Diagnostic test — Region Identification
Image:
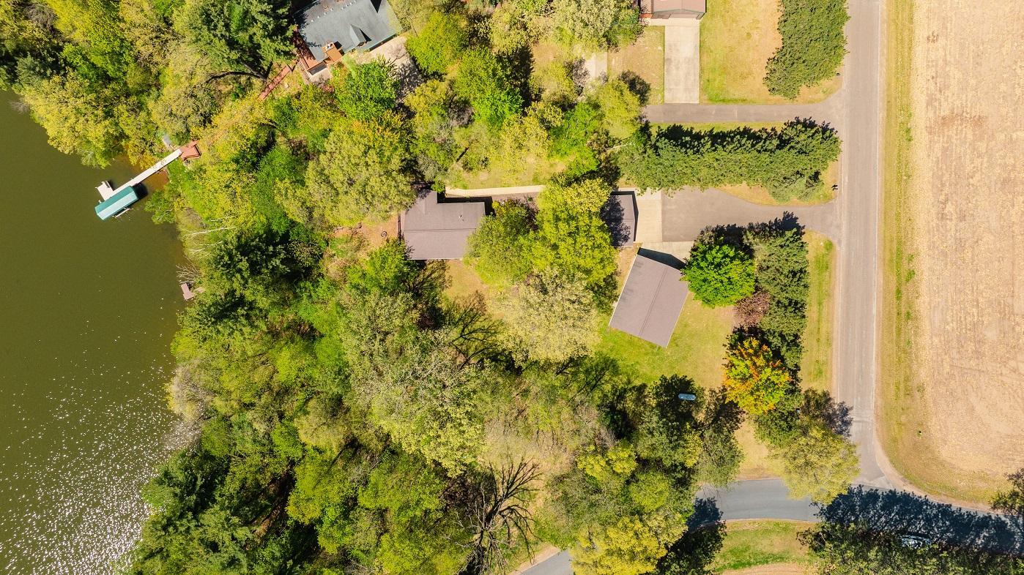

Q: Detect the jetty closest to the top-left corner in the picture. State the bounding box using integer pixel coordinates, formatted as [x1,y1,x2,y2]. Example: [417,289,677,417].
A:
[94,148,182,201]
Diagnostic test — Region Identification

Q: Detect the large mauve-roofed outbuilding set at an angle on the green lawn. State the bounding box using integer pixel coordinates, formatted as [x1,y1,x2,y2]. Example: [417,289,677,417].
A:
[609,255,690,348]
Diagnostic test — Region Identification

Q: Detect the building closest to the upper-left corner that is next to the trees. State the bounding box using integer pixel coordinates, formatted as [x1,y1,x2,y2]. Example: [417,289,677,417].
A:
[289,0,402,76]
